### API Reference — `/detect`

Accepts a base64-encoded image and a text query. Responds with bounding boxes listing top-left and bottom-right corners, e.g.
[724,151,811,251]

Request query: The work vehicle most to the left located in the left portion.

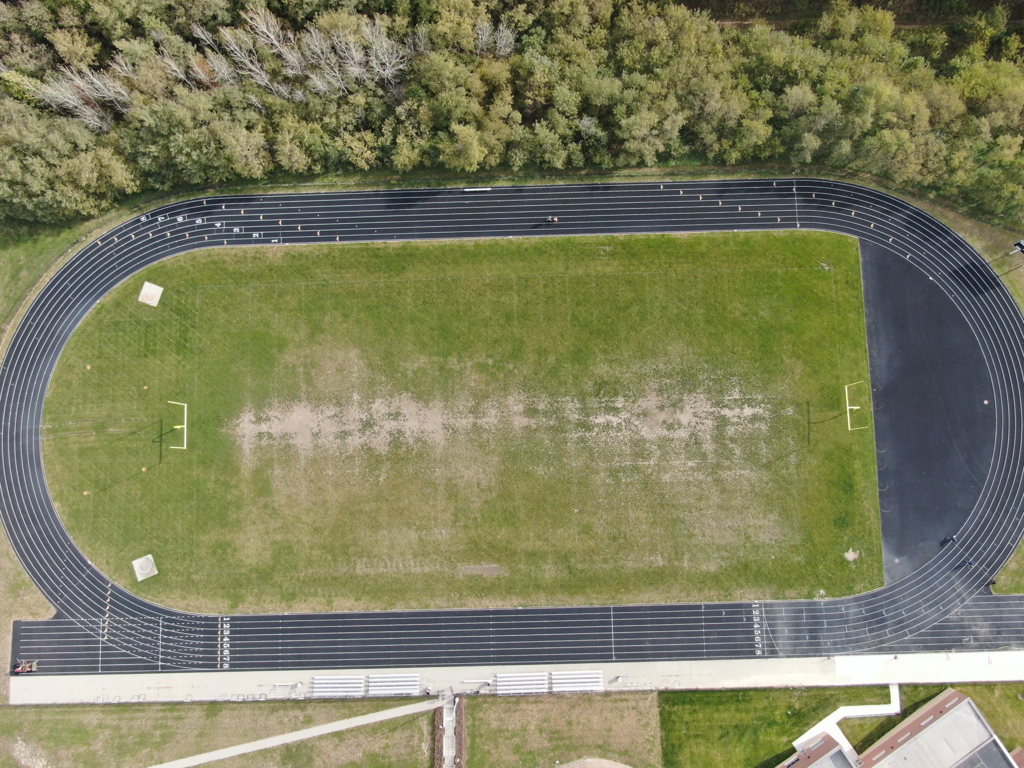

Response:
[12,661,35,676]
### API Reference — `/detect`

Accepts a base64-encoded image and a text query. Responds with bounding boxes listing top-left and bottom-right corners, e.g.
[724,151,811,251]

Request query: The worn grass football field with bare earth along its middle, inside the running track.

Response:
[42,230,884,614]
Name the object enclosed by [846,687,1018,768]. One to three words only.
building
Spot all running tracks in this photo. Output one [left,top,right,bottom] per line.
[0,178,1024,678]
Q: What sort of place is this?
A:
sports ground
